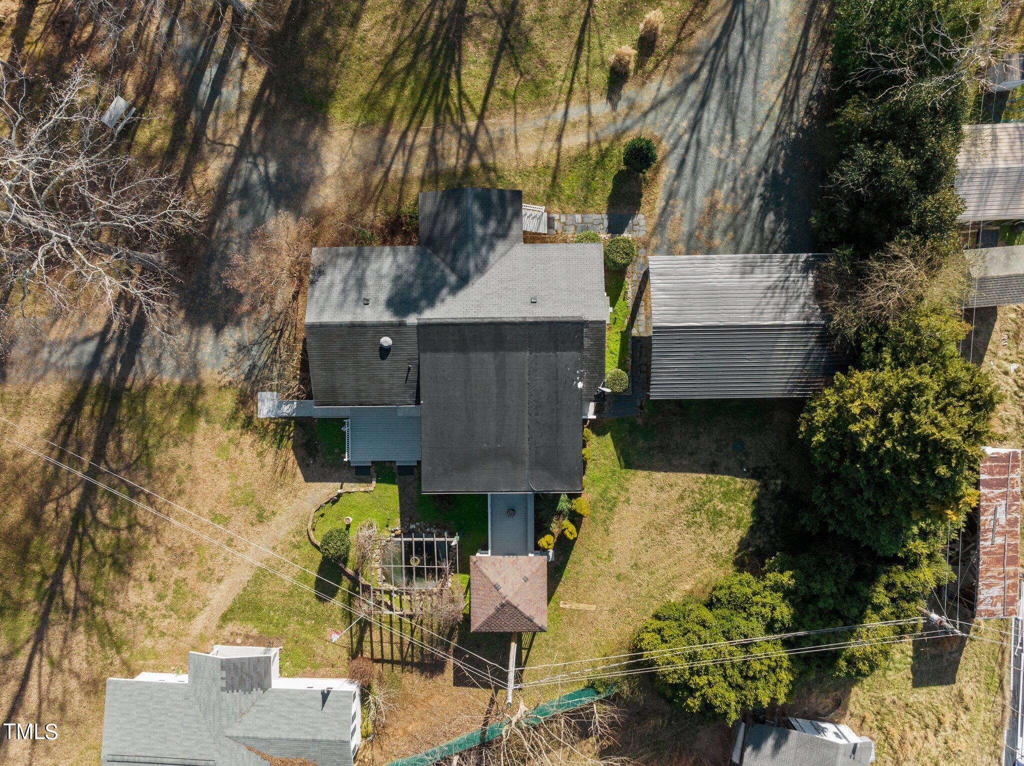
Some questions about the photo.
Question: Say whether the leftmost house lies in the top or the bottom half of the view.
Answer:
bottom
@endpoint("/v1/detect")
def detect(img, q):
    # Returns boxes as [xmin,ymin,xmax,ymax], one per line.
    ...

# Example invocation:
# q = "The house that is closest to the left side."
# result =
[96,646,360,766]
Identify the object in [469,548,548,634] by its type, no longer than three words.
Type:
gazebo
